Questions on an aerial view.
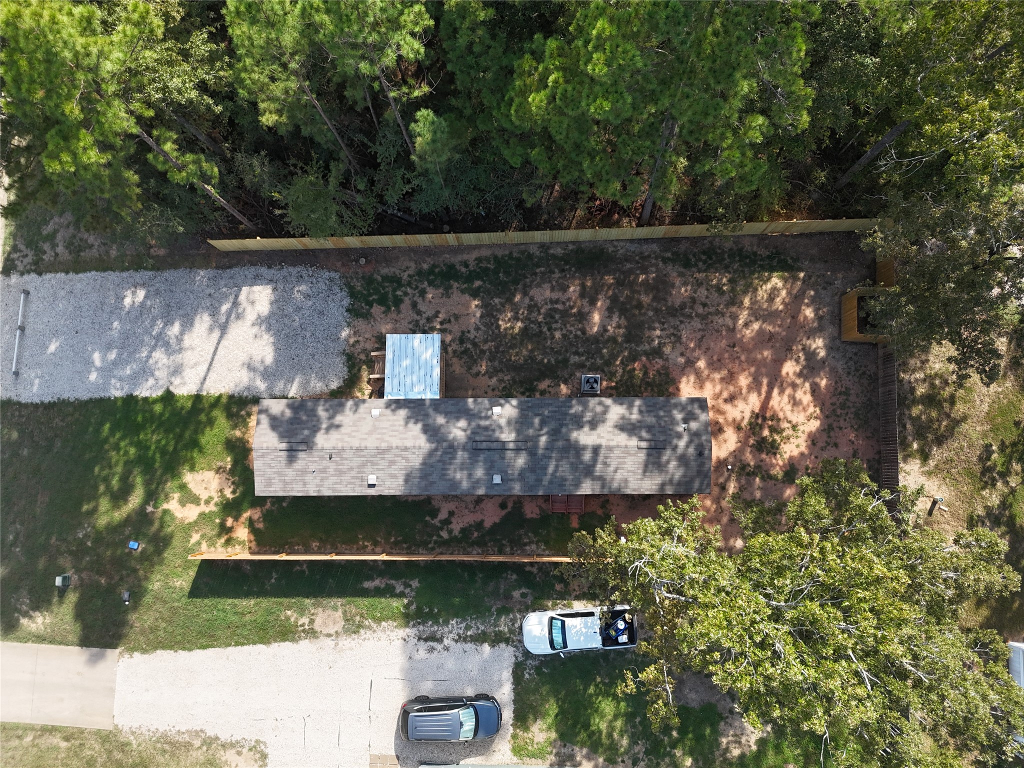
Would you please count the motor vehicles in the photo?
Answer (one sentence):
There are 2 motor vehicles in the image.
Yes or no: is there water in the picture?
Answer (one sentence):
No, the picture contains no water.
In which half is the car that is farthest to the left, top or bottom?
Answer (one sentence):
The car that is farthest to the left is in the bottom half of the image.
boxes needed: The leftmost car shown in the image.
[398,688,504,745]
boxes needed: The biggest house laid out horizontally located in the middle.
[255,398,710,495]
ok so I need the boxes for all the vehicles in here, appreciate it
[518,602,642,661]
[398,688,504,745]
